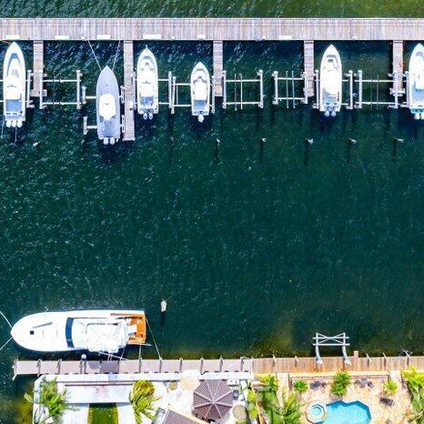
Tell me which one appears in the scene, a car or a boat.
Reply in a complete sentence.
I can see a boat in this picture.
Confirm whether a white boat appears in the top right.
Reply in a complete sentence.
Yes, a white boat shows up in the top right.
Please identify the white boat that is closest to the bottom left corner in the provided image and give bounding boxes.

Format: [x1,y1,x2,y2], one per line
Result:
[0,309,161,366]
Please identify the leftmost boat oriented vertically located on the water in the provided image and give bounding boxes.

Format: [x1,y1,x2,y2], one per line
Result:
[1,40,26,128]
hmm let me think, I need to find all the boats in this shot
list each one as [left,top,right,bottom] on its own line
[191,63,210,124]
[136,44,158,122]
[408,43,424,120]
[89,42,120,146]
[319,44,343,118]
[1,40,26,128]
[0,309,161,366]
